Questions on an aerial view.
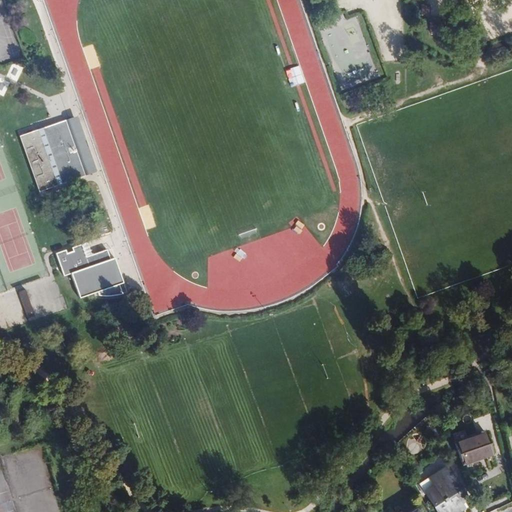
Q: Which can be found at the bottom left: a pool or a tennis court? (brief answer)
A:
tennis court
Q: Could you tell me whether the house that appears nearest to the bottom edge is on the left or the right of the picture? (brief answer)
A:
right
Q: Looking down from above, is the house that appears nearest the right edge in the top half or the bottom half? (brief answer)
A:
bottom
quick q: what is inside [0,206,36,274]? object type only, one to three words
tennis court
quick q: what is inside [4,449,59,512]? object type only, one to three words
tennis court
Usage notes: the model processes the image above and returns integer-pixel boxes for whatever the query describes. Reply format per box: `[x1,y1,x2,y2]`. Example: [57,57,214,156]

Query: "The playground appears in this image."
[321,14,380,92]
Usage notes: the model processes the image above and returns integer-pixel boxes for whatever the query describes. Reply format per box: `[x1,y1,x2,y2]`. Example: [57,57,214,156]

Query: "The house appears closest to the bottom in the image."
[416,464,470,512]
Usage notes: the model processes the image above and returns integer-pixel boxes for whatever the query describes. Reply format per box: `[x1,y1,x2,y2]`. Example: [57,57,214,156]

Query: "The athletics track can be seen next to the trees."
[42,0,363,317]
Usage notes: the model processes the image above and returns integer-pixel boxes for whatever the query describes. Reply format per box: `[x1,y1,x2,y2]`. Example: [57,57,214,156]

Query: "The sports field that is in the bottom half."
[82,296,358,500]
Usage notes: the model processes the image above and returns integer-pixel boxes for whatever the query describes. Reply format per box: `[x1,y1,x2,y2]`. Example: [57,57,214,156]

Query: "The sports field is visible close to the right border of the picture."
[357,70,512,296]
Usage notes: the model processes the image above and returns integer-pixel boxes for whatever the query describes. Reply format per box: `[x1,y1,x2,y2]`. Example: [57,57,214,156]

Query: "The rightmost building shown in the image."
[454,428,495,468]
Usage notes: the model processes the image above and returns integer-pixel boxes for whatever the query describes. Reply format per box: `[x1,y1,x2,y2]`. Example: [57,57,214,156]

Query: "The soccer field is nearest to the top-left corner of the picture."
[77,0,341,286]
